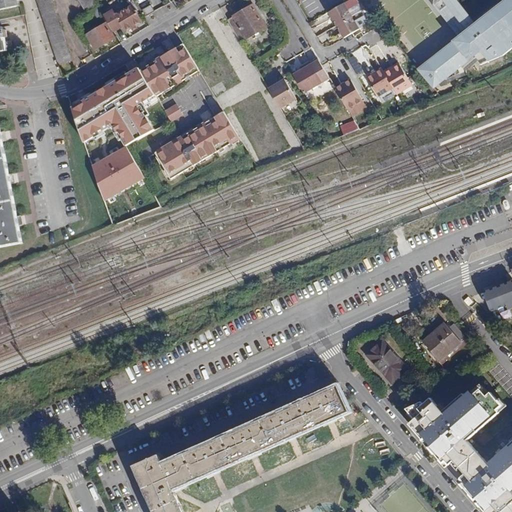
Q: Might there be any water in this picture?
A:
No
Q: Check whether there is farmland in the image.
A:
No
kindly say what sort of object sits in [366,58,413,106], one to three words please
house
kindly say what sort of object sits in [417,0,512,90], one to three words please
building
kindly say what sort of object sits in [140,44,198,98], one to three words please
building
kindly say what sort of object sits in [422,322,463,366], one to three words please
house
